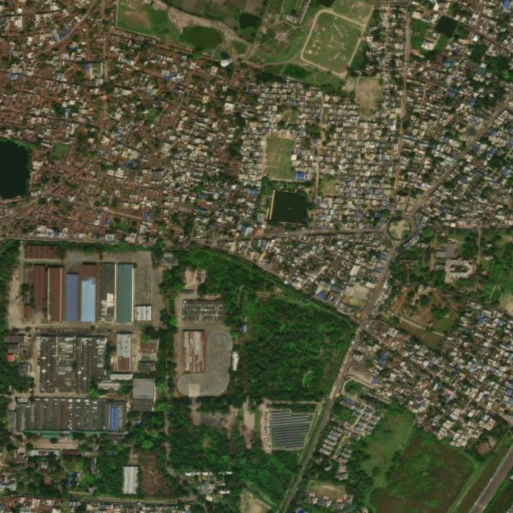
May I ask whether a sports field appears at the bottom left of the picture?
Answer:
No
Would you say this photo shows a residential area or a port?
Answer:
residential area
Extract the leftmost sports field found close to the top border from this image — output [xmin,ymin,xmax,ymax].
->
[117,0,181,44]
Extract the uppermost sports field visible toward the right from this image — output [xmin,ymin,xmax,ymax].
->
[301,0,376,79]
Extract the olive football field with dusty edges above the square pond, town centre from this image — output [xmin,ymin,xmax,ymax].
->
[263,133,297,182]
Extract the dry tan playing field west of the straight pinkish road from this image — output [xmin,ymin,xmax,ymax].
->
[356,77,382,117]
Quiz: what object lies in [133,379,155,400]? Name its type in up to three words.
building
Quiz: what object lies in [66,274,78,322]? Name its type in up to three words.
shed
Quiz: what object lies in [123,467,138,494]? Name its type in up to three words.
building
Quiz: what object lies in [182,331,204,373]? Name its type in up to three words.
shed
